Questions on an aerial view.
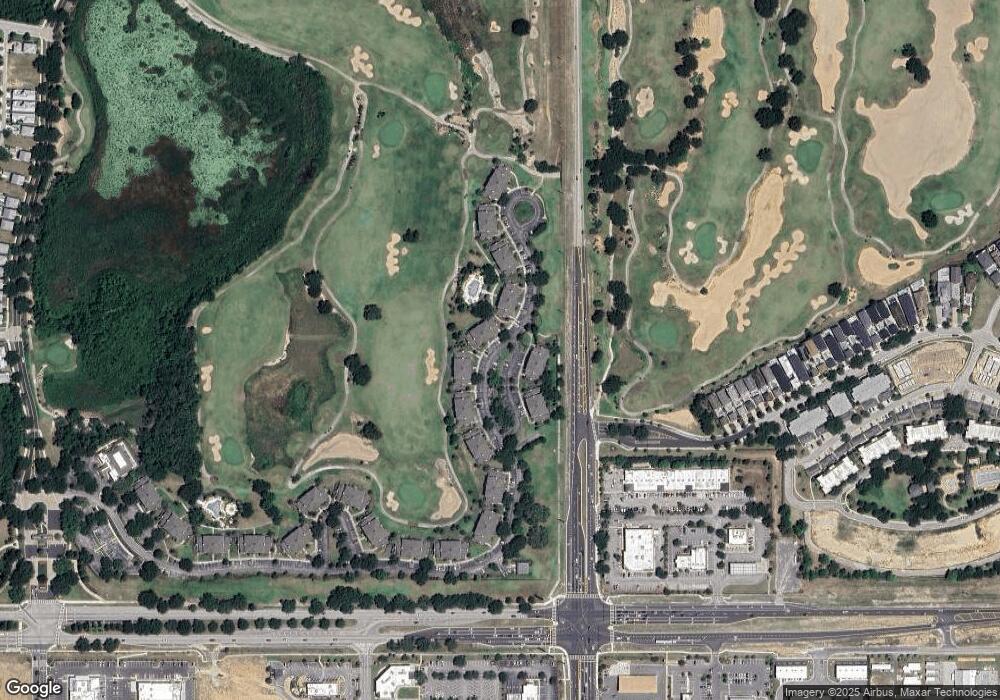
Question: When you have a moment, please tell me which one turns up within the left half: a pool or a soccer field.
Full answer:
The feature located within the left half is a pool.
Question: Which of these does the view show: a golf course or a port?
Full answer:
The picture captures a golf course.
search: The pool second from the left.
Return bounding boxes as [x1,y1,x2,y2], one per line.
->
[462,271,484,305]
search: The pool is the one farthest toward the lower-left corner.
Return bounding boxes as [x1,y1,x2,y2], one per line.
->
[198,495,226,523]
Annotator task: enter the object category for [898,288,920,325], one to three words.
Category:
house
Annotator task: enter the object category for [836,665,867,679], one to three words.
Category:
building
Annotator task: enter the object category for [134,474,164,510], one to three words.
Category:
building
